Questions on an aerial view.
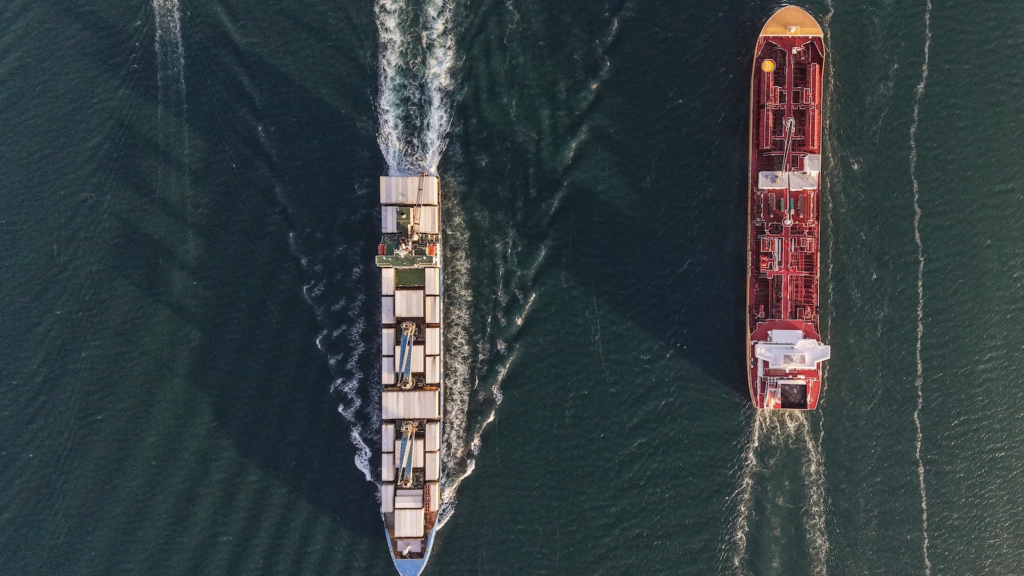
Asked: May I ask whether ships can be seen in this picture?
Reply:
Yes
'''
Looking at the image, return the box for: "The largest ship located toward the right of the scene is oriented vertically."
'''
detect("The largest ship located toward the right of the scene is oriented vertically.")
[745,4,831,410]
